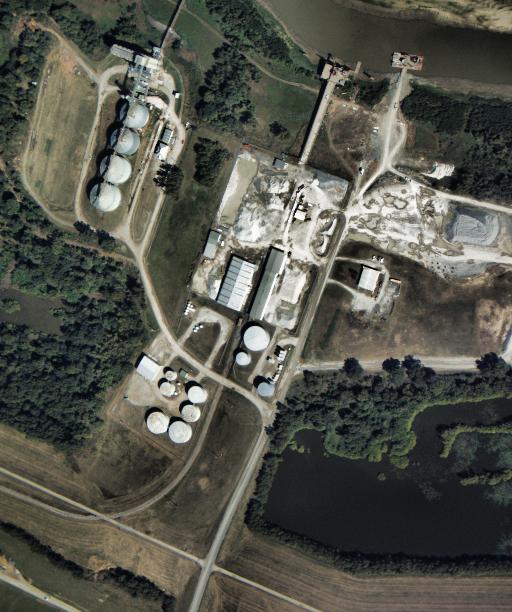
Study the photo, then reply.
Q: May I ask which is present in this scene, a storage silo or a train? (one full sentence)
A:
Of the two, only a storage silo appears.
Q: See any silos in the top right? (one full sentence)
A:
No, no silo is visible in the top right.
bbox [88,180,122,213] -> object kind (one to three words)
silo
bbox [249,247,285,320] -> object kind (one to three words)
shed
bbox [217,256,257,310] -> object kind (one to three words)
barn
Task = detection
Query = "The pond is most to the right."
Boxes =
[264,394,512,558]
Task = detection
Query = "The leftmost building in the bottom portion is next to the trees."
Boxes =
[136,356,161,381]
